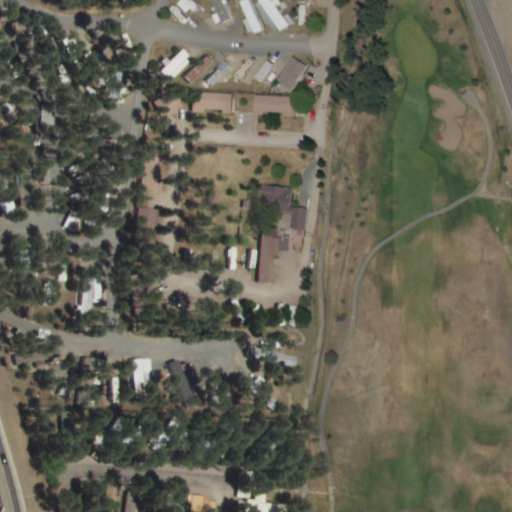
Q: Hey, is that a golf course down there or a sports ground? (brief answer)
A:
golf course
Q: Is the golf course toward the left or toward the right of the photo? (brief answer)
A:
right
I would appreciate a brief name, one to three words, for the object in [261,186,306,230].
house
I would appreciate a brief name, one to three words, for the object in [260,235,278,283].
building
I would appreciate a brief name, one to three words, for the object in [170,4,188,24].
camper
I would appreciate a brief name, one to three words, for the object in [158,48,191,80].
house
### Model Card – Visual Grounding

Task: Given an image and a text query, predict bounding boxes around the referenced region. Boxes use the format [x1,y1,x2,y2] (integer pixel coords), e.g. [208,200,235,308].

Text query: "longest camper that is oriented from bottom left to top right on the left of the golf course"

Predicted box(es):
[234,58,253,79]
